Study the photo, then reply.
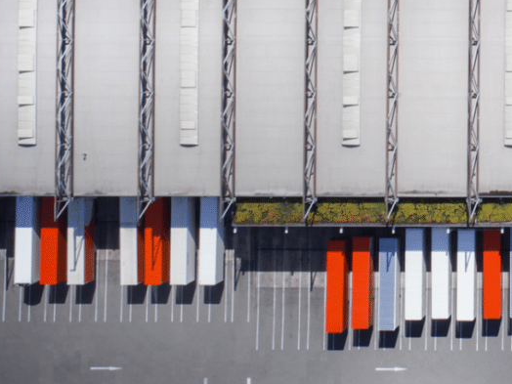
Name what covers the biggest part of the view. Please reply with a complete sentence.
Most of the picture is covered by buildings.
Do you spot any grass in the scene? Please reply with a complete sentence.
No, the scene doesn't show any grass.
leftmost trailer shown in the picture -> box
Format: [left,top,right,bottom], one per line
[15,196,41,287]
